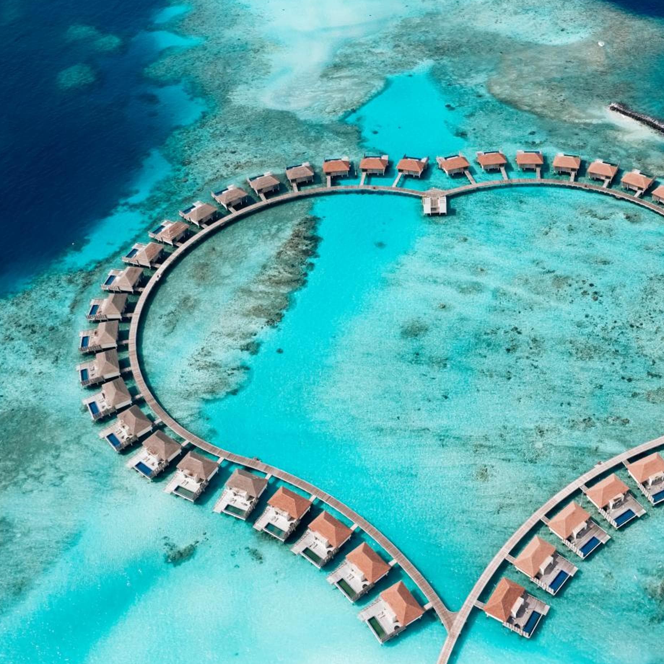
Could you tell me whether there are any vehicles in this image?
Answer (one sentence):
No, I find no vehicle anywhere in the image.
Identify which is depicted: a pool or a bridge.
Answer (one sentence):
Of the two, only a pool appears.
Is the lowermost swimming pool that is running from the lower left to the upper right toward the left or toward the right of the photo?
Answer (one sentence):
It is on the right.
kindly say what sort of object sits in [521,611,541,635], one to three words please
swimming pool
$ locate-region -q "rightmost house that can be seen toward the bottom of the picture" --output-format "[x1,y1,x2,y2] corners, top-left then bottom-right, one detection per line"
[627,453,664,508]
